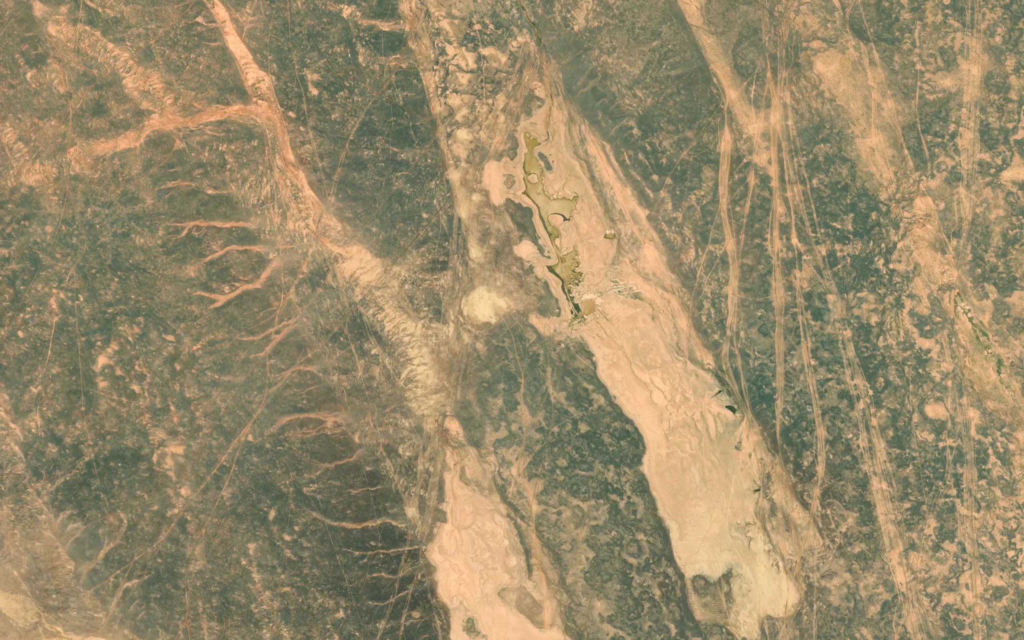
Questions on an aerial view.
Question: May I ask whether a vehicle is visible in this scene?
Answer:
No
